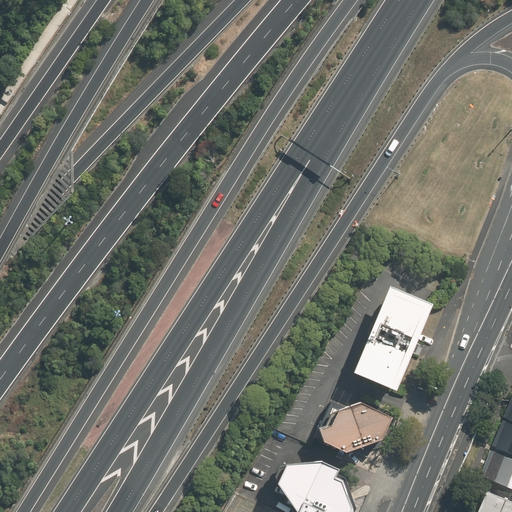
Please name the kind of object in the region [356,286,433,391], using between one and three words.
building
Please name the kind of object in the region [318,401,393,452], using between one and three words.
building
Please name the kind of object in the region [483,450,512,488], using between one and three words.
house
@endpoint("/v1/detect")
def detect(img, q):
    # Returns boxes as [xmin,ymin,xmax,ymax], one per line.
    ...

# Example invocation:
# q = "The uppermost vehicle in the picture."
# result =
[384,138,399,156]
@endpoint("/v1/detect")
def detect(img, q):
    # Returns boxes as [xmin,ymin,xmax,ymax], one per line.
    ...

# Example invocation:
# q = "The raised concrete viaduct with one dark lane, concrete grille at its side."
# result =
[0,0,162,276]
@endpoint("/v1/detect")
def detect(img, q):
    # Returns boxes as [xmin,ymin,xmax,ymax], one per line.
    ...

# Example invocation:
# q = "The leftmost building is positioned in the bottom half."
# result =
[276,459,354,512]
